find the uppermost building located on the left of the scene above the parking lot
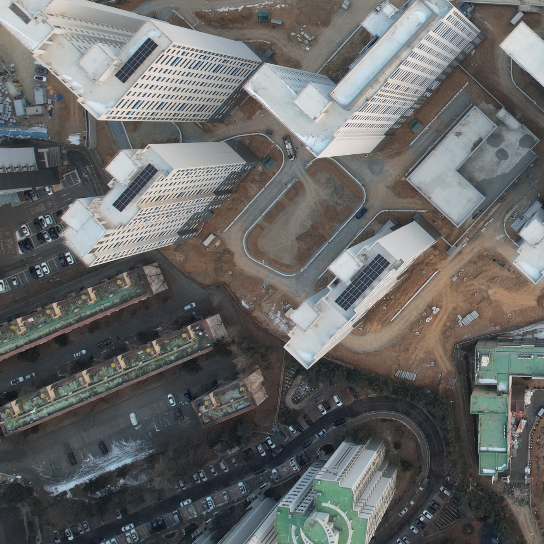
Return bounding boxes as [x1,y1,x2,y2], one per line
[0,0,272,125]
